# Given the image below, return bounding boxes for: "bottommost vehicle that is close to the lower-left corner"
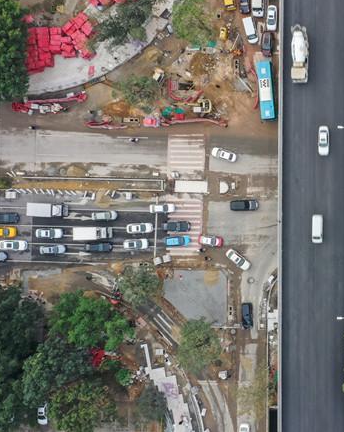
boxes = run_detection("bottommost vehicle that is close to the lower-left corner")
[35,401,50,427]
